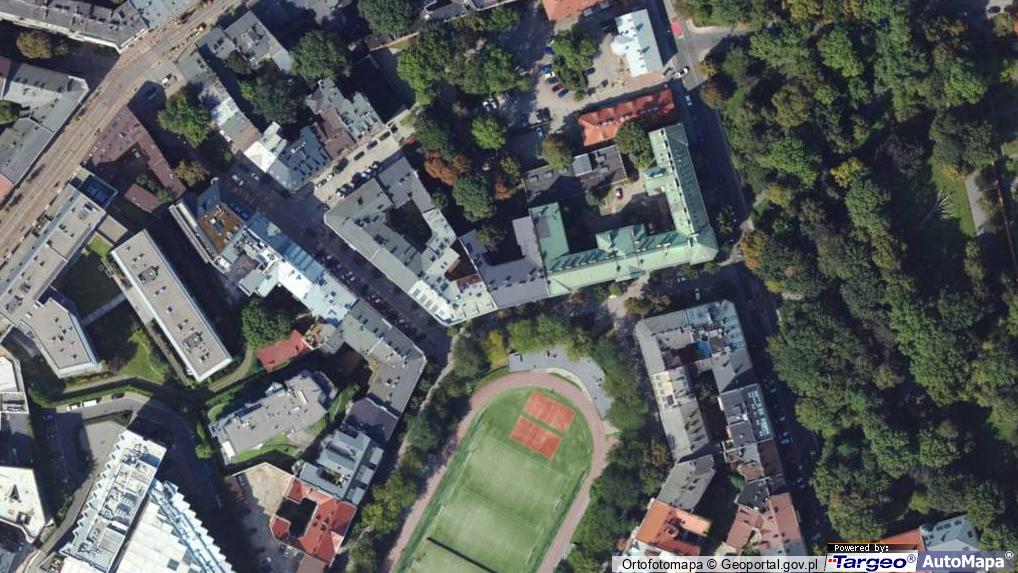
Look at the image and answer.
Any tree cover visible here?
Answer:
Yes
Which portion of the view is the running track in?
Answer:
bottom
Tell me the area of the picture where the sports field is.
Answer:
bottom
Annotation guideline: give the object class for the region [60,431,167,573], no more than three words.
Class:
building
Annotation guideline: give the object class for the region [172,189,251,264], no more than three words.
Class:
building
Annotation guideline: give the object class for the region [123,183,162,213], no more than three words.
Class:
house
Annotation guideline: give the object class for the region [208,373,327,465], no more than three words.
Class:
house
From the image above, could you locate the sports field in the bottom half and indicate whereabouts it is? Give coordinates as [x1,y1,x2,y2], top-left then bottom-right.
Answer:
[402,382,591,573]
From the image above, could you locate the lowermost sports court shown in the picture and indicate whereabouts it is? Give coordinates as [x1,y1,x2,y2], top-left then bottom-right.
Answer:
[510,416,562,460]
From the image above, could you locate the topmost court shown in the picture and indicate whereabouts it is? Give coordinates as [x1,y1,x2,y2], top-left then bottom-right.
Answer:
[523,390,577,433]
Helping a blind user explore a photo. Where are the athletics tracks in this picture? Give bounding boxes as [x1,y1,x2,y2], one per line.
[389,369,603,573]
